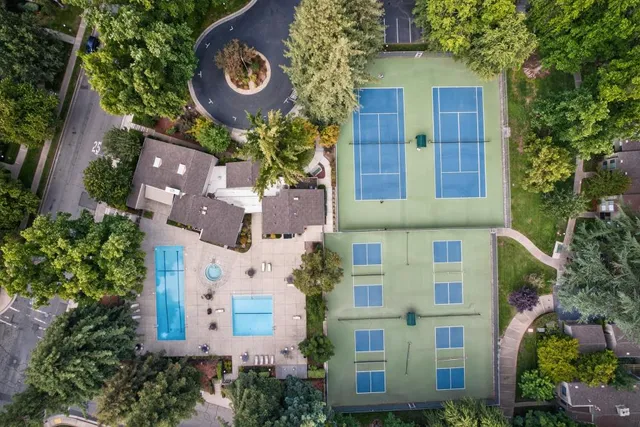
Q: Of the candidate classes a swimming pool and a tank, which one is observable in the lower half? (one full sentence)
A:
There is a swimming pool in the lower half.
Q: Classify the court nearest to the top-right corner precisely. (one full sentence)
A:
I'd identify the court nearest to the top-right corner as a tennis court.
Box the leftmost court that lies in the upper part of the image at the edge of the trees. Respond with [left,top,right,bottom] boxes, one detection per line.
[349,87,411,201]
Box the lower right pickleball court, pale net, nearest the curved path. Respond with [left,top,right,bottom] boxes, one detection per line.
[434,326,467,390]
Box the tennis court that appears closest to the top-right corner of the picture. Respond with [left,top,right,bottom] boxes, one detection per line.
[429,86,491,198]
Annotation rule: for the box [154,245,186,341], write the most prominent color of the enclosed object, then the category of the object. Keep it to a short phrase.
blue swimming pool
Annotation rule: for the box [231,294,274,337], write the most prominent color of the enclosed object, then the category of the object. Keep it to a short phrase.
blue swimming pool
